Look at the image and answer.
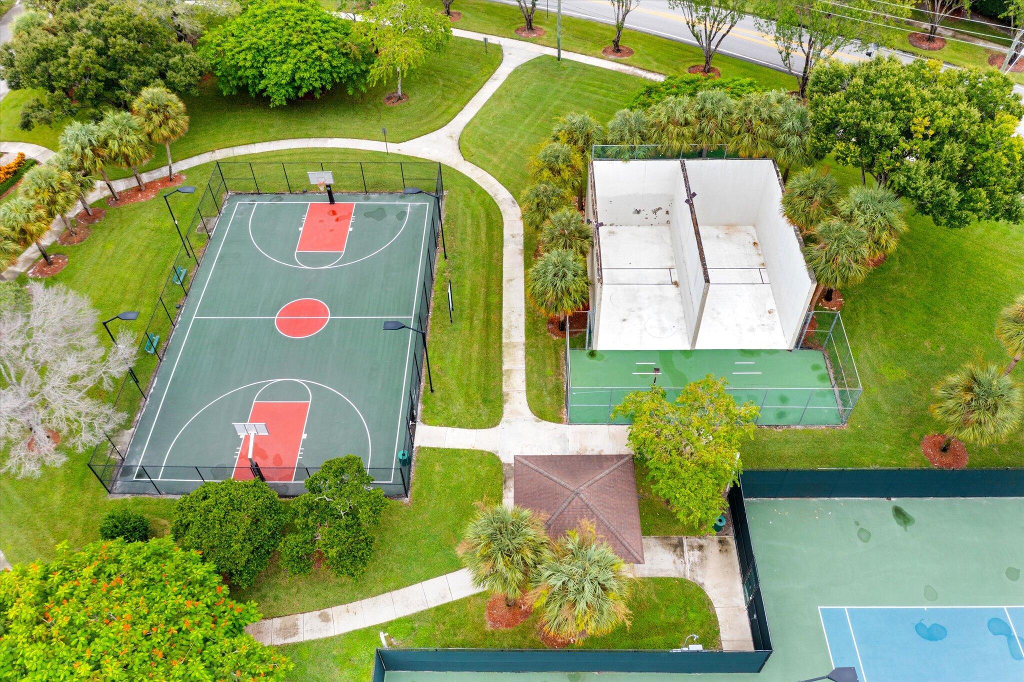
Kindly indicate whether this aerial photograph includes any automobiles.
No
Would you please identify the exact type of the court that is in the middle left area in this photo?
basketball court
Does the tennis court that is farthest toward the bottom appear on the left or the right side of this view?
right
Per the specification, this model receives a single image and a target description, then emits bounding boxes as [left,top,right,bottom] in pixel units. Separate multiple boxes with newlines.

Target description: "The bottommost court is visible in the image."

[384,497,1024,682]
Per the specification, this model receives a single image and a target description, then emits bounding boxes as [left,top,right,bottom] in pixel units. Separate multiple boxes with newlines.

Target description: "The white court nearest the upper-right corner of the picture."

[584,157,820,349]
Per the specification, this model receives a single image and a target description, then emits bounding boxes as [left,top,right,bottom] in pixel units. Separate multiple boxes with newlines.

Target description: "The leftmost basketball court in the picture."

[106,193,444,498]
